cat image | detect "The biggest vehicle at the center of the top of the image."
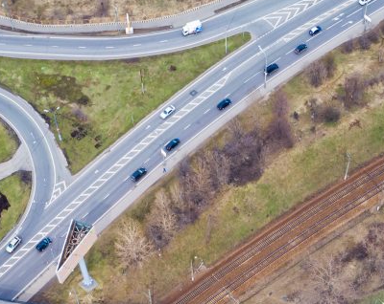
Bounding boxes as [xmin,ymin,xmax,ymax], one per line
[180,20,204,39]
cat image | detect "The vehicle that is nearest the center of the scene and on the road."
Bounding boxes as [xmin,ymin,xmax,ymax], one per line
[164,138,181,152]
